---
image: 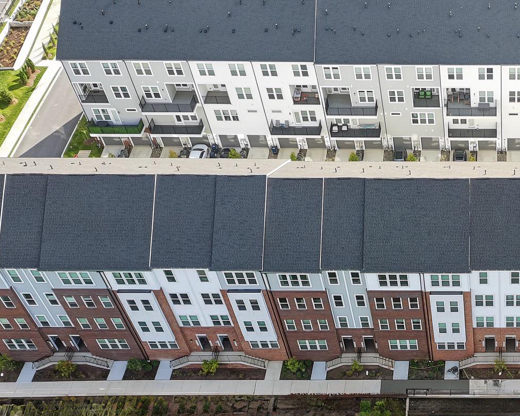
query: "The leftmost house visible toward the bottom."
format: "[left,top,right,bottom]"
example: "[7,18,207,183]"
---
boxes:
[0,157,149,372]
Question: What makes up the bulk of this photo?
buildings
